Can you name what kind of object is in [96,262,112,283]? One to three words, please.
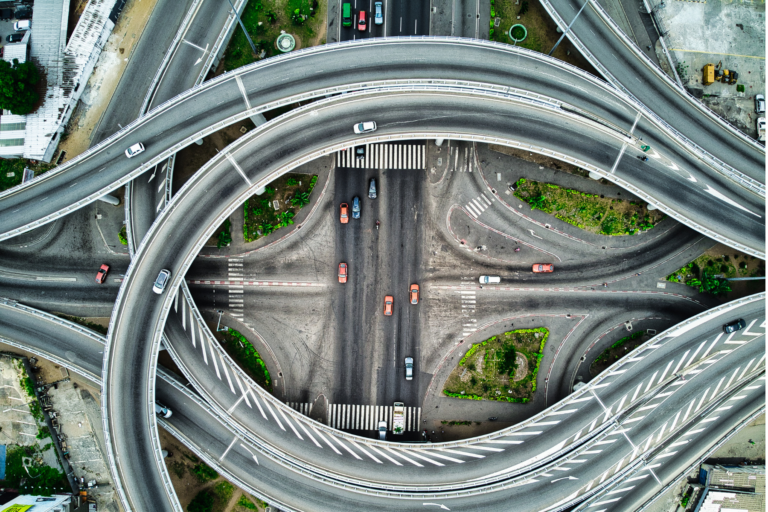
car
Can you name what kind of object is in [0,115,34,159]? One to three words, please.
shed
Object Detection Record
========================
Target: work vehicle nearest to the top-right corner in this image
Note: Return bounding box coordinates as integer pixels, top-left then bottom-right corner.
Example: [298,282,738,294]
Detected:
[714,61,738,84]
